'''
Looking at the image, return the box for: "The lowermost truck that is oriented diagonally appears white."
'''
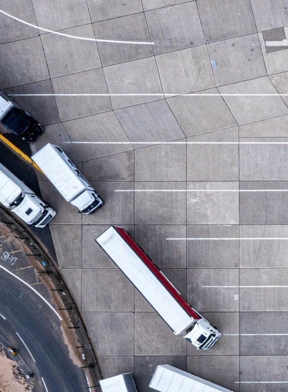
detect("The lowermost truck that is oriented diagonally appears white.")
[96,227,222,351]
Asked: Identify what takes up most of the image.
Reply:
paved ground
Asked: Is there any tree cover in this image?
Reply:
No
